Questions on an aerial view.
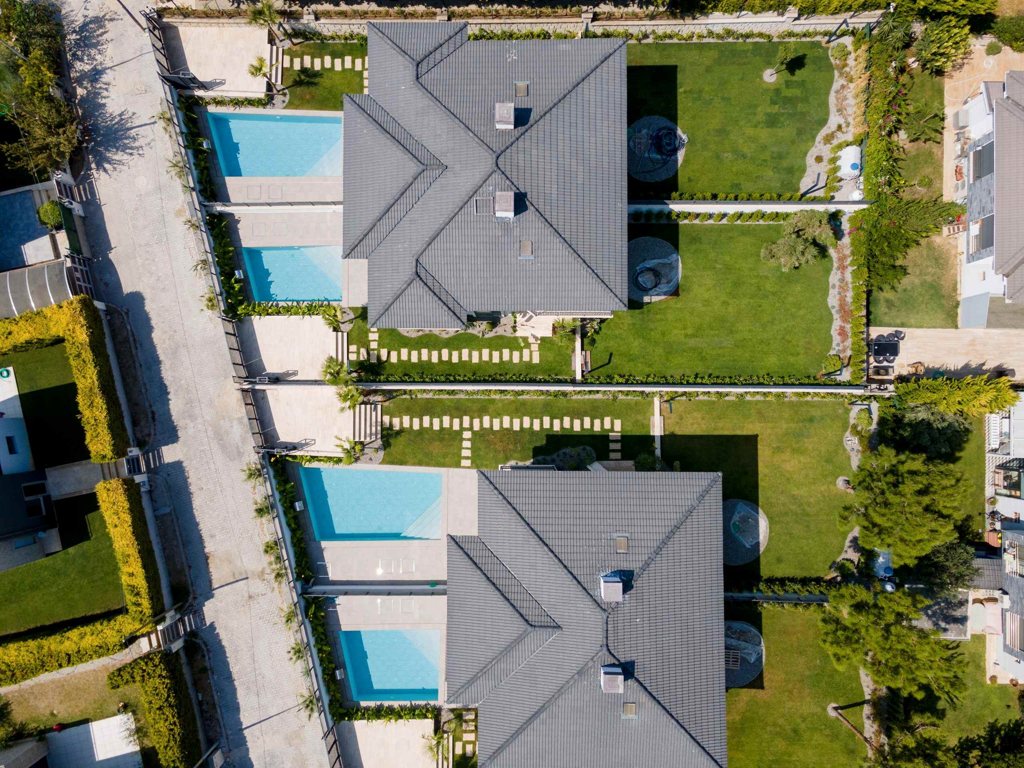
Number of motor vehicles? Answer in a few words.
0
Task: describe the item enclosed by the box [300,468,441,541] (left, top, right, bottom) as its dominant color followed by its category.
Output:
blue swimming pool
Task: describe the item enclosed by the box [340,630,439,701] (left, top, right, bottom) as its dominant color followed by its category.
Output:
blue swimming pool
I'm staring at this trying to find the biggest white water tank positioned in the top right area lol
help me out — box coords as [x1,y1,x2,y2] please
[834,146,863,190]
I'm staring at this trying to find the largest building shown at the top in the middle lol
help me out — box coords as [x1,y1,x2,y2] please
[340,18,630,328]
